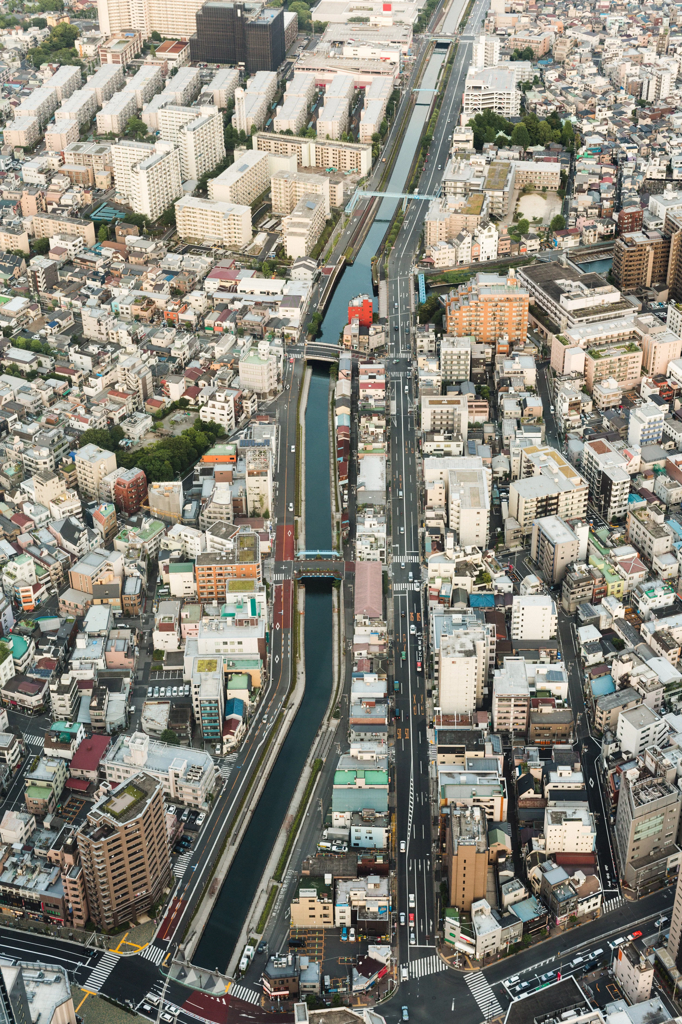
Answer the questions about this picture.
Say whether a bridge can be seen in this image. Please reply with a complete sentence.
Yes, you can see a bridge in this photo.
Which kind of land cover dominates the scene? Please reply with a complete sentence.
For the most part, this view shows buildings.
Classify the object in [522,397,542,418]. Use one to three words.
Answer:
house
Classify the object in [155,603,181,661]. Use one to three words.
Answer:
building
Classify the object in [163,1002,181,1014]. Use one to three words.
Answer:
vehicle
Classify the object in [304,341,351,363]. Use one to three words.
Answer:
bridge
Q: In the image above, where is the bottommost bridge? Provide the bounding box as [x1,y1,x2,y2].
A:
[164,960,234,994]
